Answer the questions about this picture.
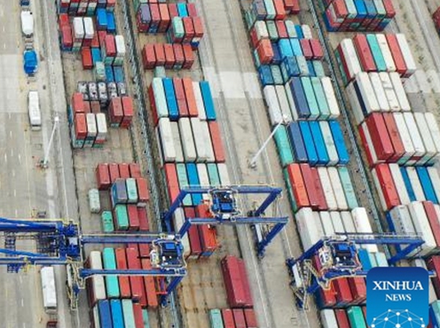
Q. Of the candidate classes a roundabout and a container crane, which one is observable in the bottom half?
container crane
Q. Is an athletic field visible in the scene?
No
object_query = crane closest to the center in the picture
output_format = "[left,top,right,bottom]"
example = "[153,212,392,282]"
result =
[159,183,290,254]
